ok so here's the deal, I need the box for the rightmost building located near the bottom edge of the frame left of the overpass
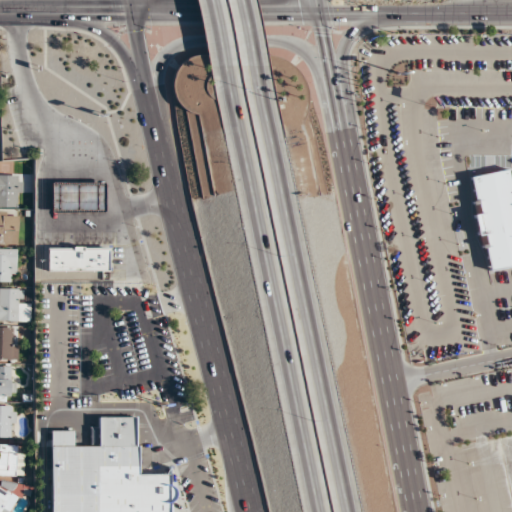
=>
[53,414,178,512]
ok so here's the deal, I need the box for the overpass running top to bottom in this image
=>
[198,0,361,512]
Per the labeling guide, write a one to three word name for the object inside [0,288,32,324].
house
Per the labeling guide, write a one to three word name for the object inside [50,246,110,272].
building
